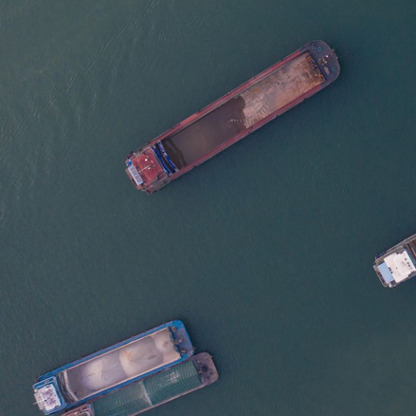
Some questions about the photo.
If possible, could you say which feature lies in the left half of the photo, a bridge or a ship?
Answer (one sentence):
The one visible in the left half of the photo is a ship.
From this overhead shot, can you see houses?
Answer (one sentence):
No, there appears to be no house in this shot.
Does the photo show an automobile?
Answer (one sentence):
No, no automobile is visible in the view.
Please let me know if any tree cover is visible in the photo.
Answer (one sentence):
No, no tree cover is visible.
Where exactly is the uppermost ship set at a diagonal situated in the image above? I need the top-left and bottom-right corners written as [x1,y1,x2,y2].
[126,41,340,194]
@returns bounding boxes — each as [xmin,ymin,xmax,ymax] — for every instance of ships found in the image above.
[126,41,340,194]
[58,351,220,416]
[373,236,416,288]
[31,319,198,416]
